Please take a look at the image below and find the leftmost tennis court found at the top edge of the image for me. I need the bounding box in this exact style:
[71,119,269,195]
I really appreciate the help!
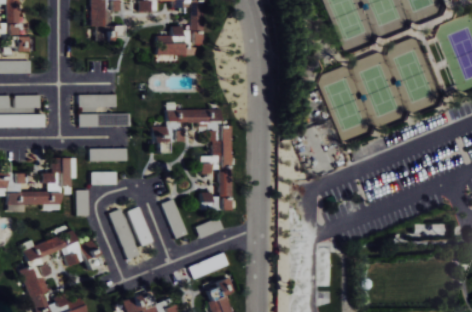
[322,0,374,52]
